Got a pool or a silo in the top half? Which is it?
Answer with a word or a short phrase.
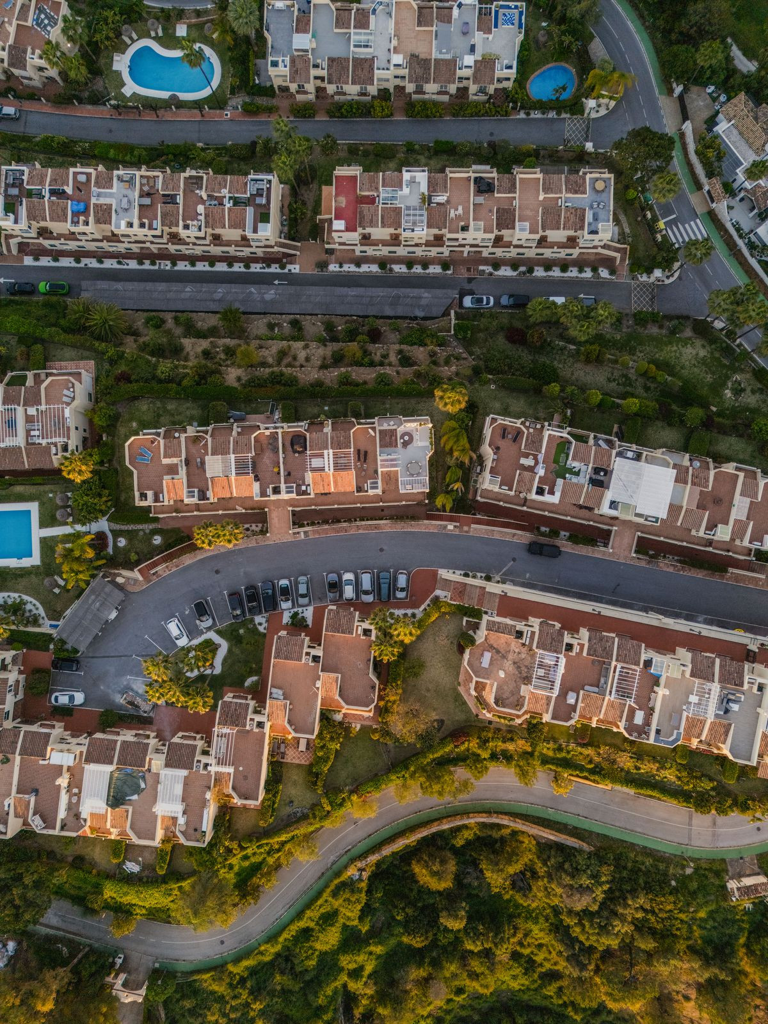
pool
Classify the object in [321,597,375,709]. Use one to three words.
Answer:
house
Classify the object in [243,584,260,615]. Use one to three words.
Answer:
car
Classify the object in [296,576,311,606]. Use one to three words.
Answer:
car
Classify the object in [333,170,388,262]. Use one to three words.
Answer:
house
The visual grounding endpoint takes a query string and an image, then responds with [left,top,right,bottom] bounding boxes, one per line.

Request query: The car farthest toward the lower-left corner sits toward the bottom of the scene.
[51,691,85,706]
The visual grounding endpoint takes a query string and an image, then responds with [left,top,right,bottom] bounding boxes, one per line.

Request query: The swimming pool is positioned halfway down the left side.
[0,502,40,567]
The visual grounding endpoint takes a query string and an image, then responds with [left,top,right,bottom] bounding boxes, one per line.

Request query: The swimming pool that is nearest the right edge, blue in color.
[527,62,577,103]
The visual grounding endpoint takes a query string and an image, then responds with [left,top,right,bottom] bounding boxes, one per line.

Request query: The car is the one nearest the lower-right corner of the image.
[527,541,561,557]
